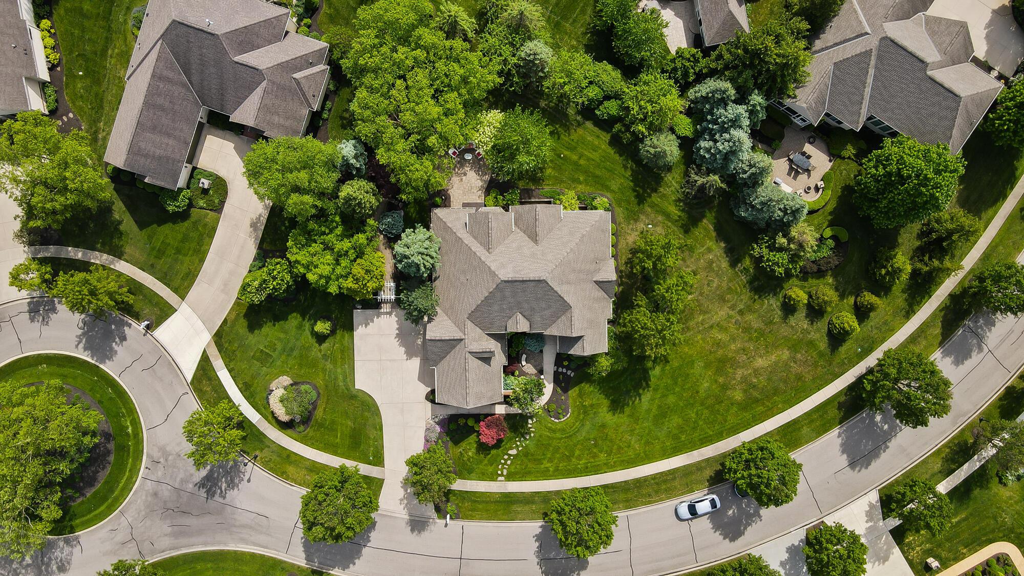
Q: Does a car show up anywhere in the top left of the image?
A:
No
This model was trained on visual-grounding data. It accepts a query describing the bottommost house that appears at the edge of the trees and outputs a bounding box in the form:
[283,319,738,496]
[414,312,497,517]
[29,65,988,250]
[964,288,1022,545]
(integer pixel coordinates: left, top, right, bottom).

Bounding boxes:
[426,204,616,409]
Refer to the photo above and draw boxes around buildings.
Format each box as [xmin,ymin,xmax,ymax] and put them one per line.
[0,0,53,122]
[694,0,750,49]
[763,0,1004,158]
[426,204,616,409]
[103,0,340,191]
